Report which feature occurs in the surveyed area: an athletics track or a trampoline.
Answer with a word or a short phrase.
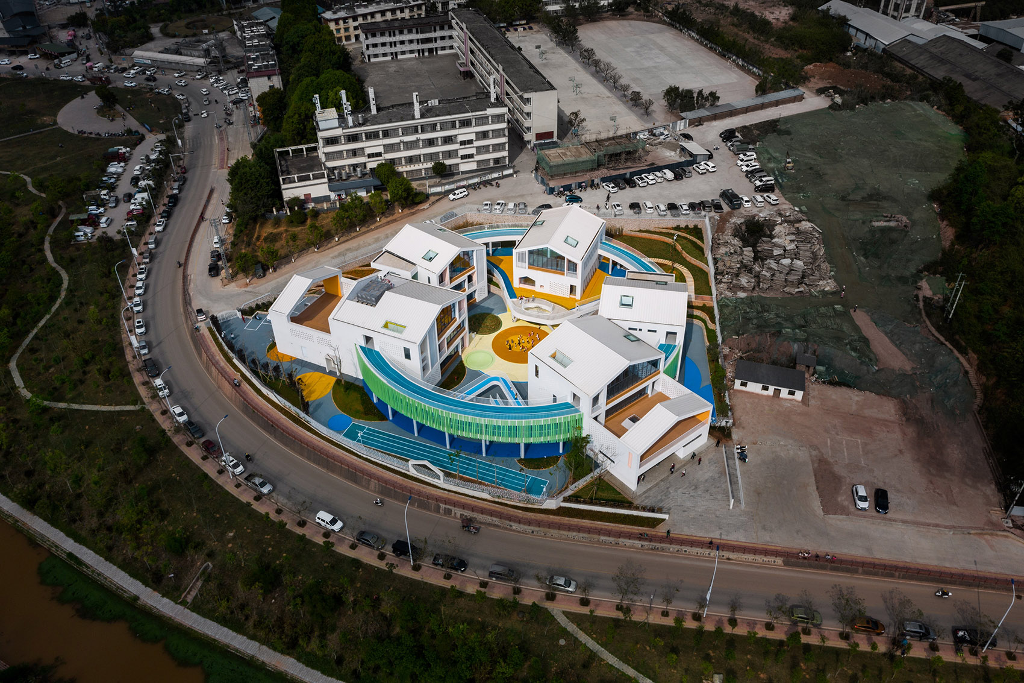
athletics track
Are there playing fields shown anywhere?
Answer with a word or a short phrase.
Yes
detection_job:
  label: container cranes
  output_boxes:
[936,0,987,30]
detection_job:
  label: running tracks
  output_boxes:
[342,422,548,497]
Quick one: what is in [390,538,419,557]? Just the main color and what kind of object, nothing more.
black car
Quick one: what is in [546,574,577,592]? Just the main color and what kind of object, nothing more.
gray car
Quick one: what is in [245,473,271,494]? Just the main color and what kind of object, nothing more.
gray car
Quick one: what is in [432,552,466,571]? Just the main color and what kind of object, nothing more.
black car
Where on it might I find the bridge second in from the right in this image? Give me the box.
[599,237,661,273]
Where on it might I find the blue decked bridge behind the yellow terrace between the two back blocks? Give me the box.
[454,224,532,250]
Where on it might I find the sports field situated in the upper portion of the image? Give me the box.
[578,20,758,113]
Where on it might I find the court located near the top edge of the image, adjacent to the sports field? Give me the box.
[506,27,645,142]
